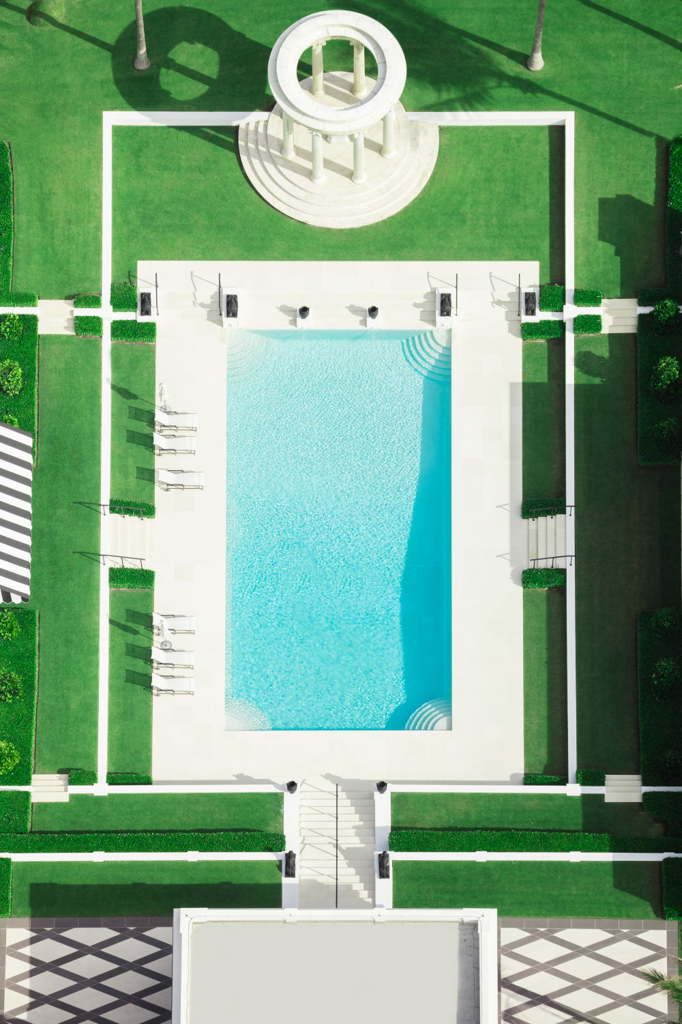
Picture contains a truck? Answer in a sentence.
No, there's no truck here.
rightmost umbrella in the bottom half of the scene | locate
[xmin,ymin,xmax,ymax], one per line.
[160,621,172,650]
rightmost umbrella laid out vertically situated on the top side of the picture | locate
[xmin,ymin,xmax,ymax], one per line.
[159,384,172,414]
